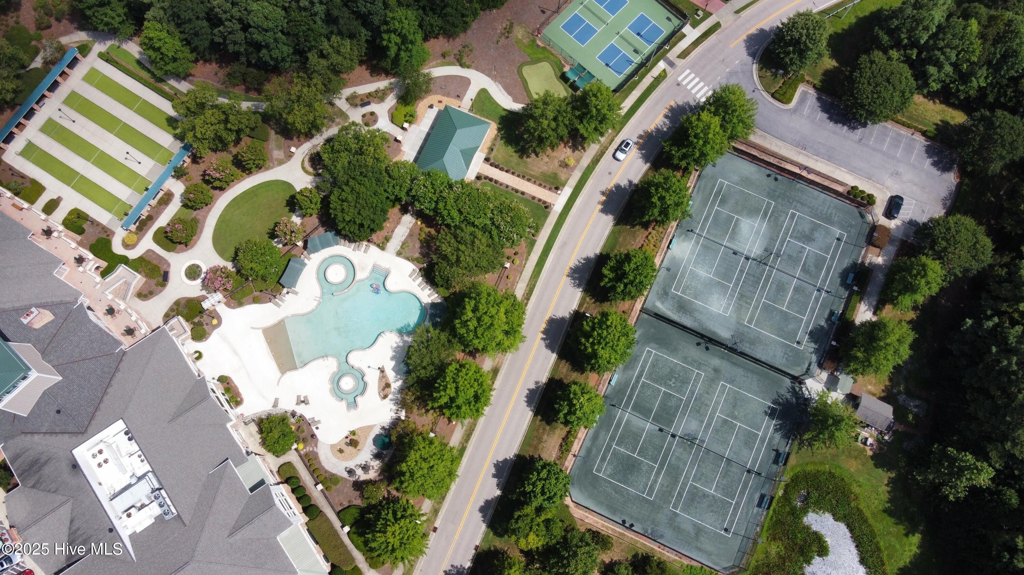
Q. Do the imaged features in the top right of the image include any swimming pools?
No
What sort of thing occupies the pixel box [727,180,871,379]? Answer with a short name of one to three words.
tennis court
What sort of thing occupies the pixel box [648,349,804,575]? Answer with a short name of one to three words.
tennis court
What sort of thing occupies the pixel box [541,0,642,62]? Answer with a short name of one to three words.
sports court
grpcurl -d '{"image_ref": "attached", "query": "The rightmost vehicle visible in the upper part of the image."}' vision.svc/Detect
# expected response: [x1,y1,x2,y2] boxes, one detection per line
[889,198,906,224]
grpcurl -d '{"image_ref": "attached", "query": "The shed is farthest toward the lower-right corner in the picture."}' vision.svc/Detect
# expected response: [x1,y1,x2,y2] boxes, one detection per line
[854,393,893,432]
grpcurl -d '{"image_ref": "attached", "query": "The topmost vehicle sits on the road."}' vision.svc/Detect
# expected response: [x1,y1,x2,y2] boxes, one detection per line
[614,136,634,160]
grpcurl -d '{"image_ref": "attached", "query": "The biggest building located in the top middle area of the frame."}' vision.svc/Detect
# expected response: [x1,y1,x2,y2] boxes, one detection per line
[416,104,491,181]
